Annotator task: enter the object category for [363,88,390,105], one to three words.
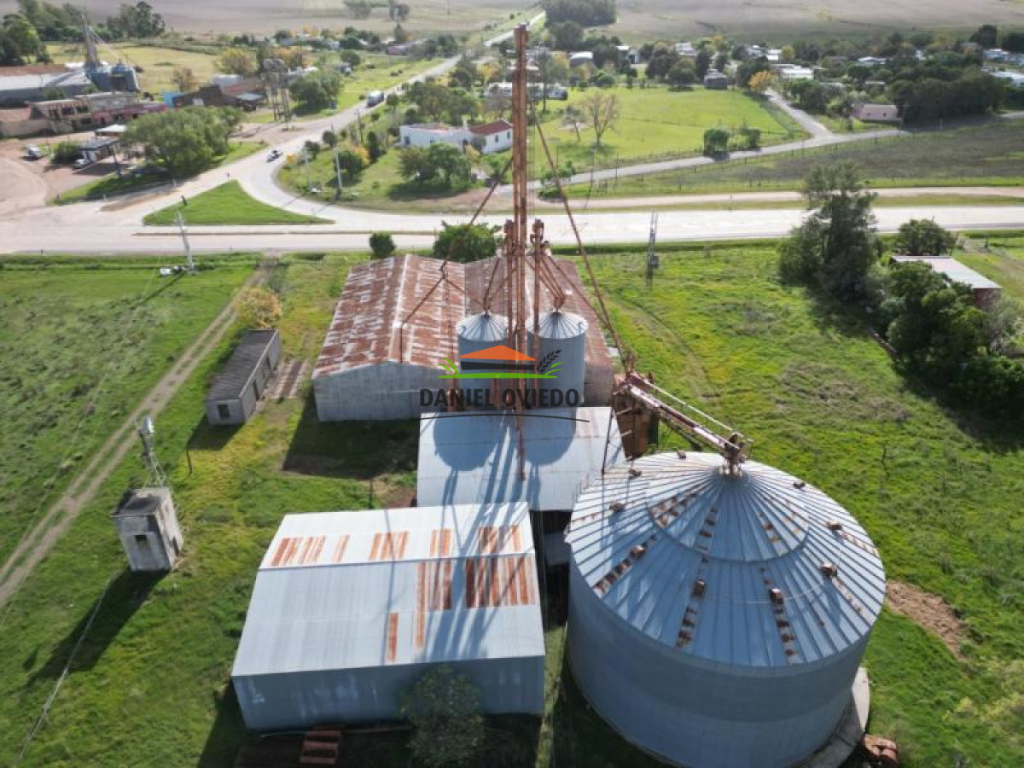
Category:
vehicle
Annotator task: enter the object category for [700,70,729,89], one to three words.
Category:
house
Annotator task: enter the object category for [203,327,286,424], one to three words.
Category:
shed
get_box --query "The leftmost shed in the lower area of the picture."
[111,489,184,569]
